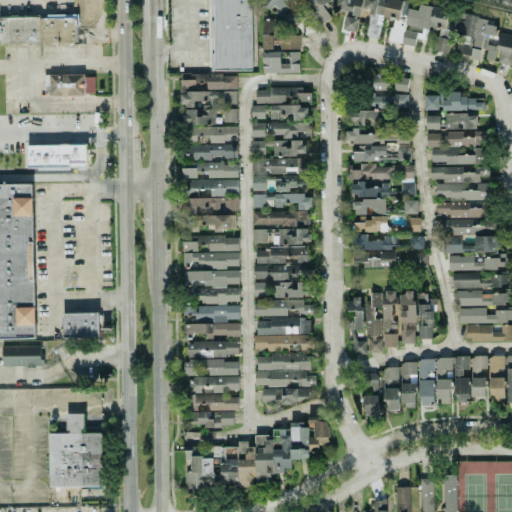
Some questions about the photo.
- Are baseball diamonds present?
No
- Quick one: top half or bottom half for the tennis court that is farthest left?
bottom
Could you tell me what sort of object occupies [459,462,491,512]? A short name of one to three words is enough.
tennis court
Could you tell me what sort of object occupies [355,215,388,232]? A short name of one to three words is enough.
house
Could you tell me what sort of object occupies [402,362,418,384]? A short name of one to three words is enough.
building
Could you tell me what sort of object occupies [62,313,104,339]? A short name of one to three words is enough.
building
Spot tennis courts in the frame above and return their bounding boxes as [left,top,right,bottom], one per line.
[459,462,491,512]
[491,462,512,512]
